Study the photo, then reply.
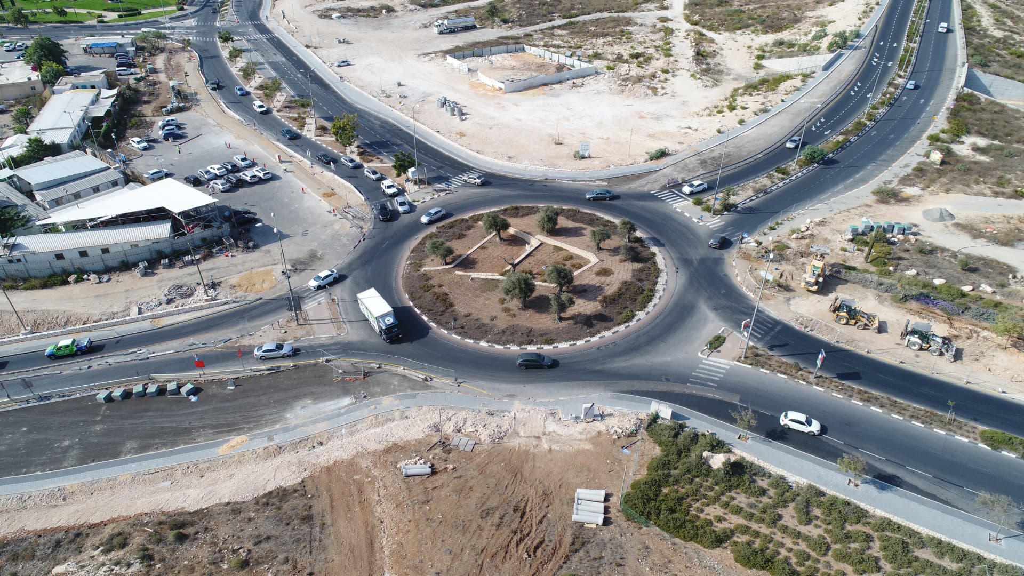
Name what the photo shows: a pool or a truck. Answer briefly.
truck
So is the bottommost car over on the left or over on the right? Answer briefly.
right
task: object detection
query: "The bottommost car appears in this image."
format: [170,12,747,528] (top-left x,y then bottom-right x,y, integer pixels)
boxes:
[777,410,822,437]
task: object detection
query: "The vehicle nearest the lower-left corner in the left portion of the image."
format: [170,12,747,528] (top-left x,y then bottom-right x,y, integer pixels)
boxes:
[44,339,93,362]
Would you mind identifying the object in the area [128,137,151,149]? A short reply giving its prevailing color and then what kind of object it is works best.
white vehicle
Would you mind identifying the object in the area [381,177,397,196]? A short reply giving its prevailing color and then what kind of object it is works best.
white car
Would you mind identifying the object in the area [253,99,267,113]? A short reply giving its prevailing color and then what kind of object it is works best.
white car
